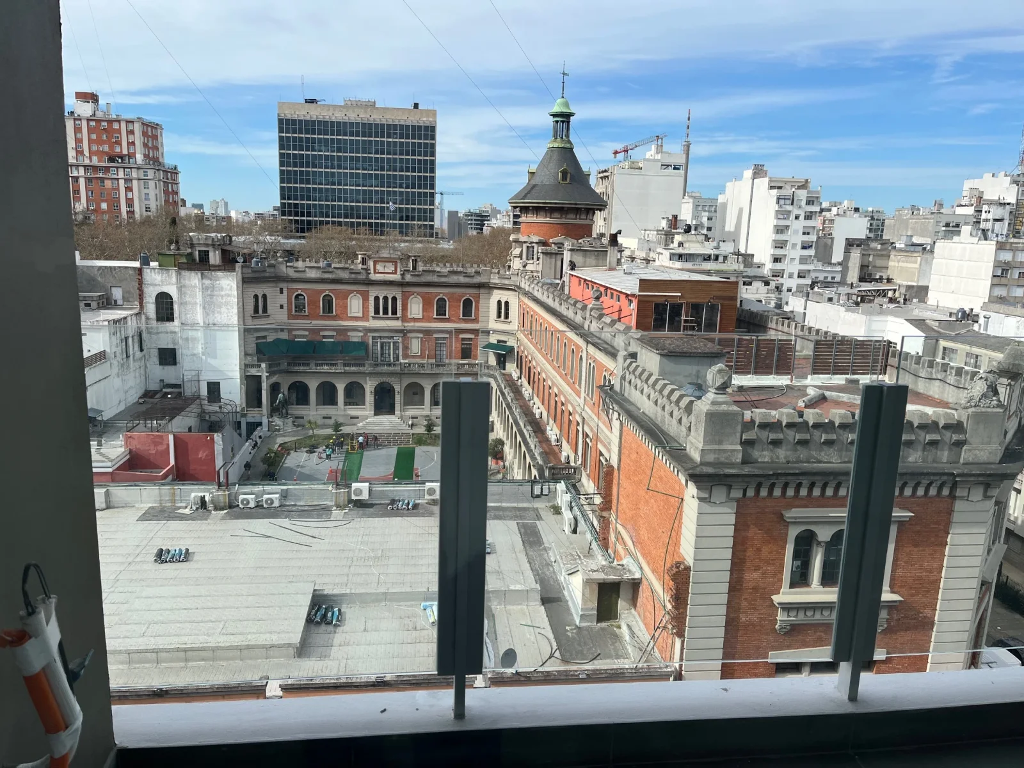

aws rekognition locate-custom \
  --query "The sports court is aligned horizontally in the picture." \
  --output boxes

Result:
[280,445,440,485]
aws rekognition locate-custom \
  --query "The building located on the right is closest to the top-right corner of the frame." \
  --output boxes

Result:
[964,158,1024,200]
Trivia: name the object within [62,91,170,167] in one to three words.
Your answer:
building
